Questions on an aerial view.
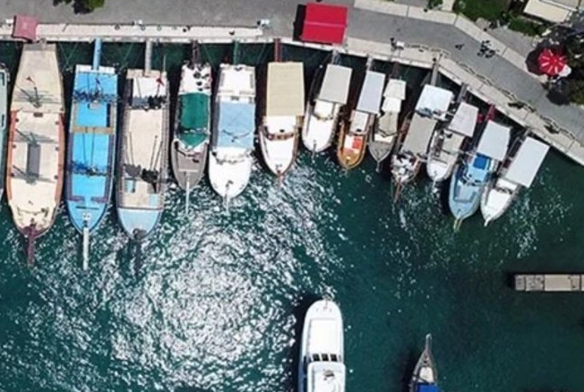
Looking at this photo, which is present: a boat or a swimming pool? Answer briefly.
boat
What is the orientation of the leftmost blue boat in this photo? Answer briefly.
from top to bottom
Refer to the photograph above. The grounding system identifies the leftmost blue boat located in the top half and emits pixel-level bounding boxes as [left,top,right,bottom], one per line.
[64,40,130,271]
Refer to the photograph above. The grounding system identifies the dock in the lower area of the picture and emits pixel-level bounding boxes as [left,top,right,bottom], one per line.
[514,275,584,290]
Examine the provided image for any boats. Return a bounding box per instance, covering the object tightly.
[258,39,305,187]
[430,82,479,193]
[394,61,454,189]
[64,40,130,271]
[306,49,356,159]
[116,40,181,275]
[371,60,406,172]
[482,126,550,227]
[298,300,349,392]
[6,42,77,268]
[453,104,512,231]
[205,42,265,214]
[341,53,387,176]
[411,333,455,392]
[171,40,214,214]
